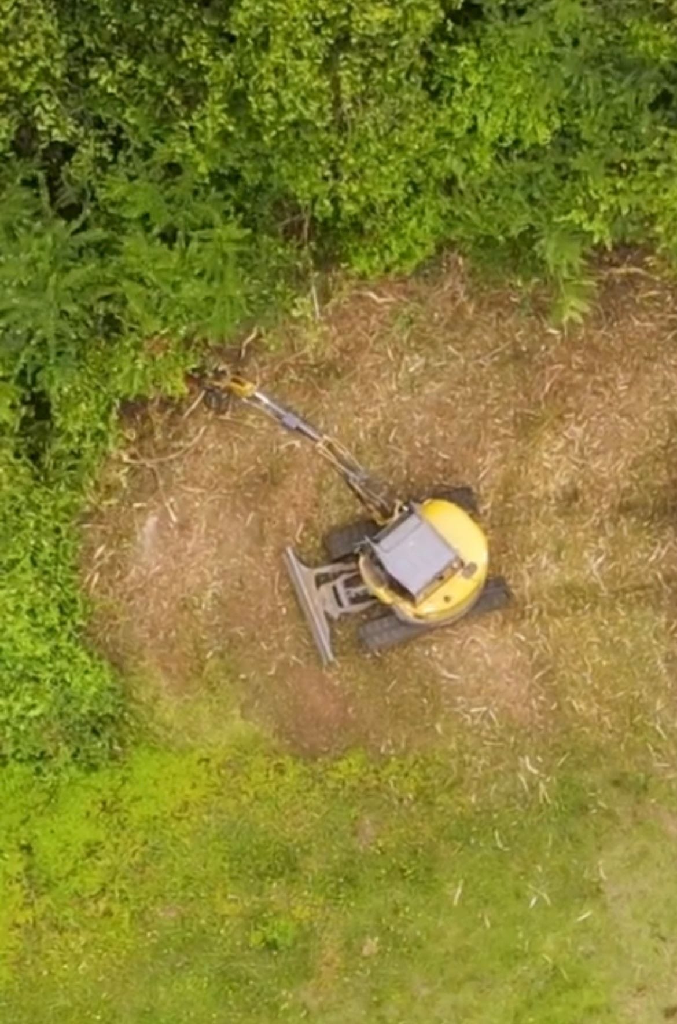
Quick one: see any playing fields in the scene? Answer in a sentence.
No, there is no playing field in the image.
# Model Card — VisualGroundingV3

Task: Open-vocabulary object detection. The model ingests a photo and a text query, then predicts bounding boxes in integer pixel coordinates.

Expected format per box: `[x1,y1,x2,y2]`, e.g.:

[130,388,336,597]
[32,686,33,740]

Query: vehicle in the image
[193,363,513,665]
